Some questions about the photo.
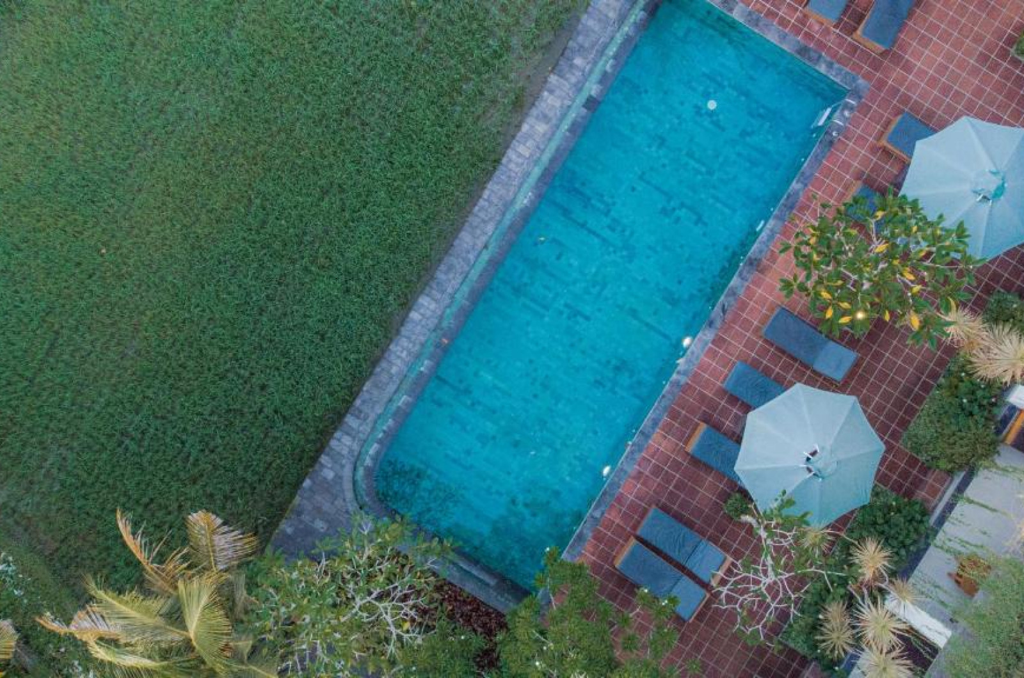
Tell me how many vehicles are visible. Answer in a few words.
0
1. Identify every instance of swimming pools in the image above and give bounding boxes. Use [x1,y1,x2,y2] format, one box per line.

[379,0,848,594]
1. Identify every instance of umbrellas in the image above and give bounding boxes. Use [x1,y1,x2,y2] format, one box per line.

[733,382,884,530]
[898,113,1024,264]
